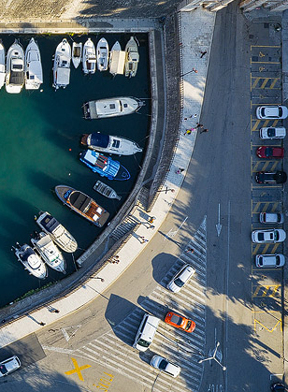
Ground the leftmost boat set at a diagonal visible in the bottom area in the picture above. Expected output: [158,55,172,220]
[11,242,48,285]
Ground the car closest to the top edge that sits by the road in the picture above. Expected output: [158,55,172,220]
[254,104,287,120]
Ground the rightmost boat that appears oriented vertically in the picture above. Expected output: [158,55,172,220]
[121,35,141,81]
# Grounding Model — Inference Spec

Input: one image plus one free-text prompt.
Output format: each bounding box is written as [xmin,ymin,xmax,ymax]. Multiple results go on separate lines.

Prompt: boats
[75,131,143,158]
[56,187,110,232]
[94,36,112,82]
[121,35,141,81]
[71,40,81,70]
[106,34,128,85]
[81,97,151,122]
[31,233,67,272]
[11,242,48,285]
[5,35,25,98]
[23,36,41,97]
[35,211,77,261]
[80,35,98,81]
[50,35,75,93]
[78,153,131,180]
[91,179,124,200]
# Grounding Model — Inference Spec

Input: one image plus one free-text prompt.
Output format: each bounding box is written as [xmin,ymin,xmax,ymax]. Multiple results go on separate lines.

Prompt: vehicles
[0,354,24,377]
[249,228,285,244]
[257,212,283,225]
[148,354,182,378]
[257,125,287,139]
[252,170,286,185]
[163,262,200,295]
[132,313,164,351]
[254,253,285,268]
[254,104,287,120]
[254,145,285,160]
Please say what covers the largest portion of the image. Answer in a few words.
paved ground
